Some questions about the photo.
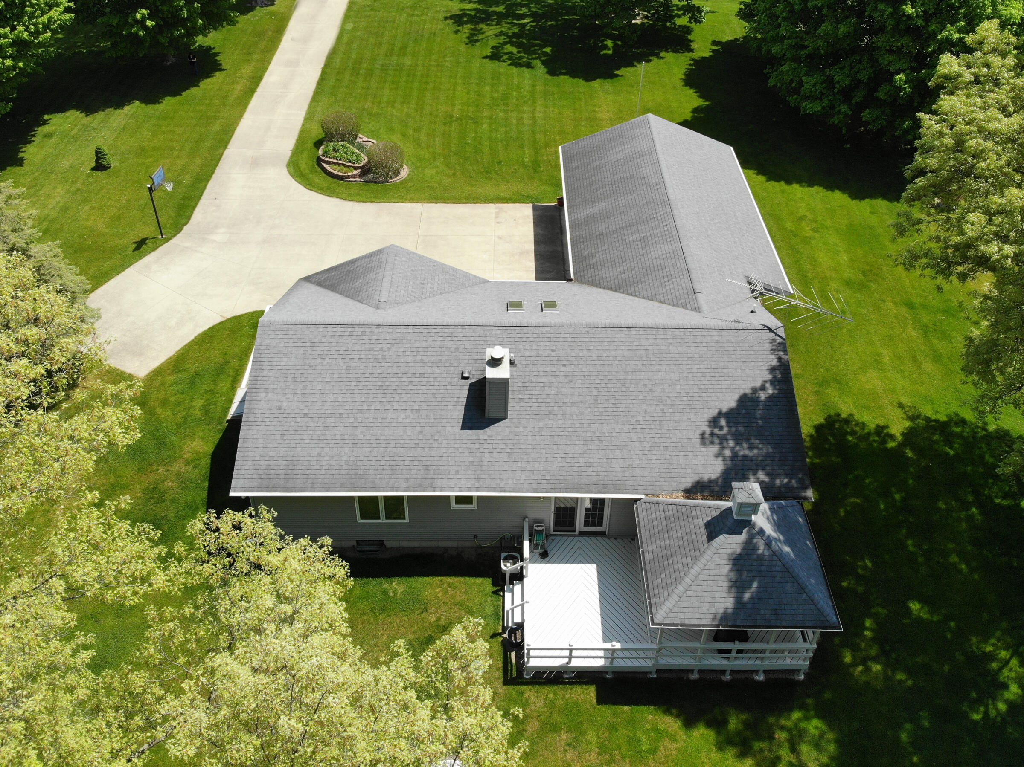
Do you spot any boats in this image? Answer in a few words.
No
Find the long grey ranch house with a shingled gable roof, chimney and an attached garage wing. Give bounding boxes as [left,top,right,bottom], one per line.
[229,114,815,557]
